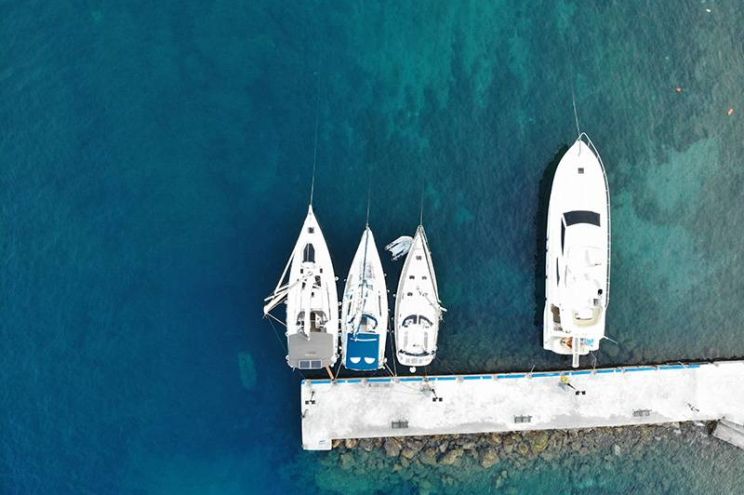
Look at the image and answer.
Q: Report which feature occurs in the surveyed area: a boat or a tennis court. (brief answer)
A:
boat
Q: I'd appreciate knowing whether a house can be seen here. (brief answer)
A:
No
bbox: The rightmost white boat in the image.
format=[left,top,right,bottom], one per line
[543,89,617,374]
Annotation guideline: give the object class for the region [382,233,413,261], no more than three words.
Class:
boat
